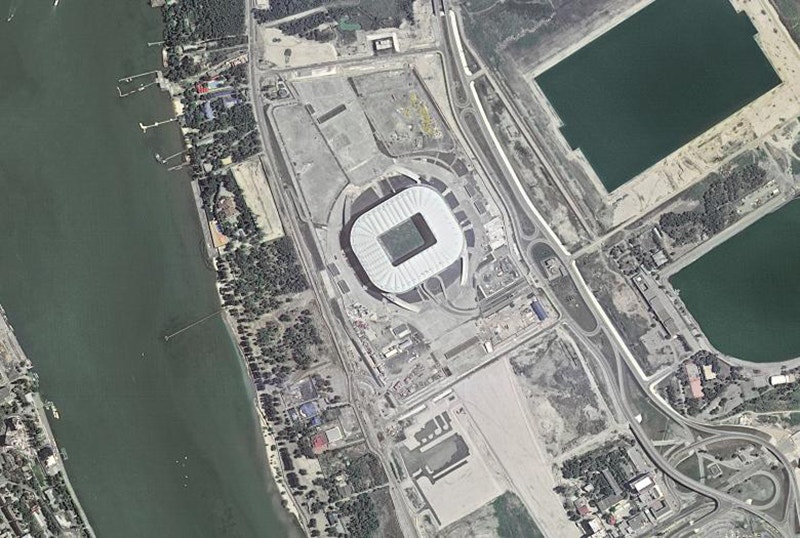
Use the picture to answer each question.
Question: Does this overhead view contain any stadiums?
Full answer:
Yes, the picture does show a stadium.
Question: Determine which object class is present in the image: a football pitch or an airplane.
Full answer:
The one in the frame is a football pitch.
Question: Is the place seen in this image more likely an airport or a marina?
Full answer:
The picture captures a marina.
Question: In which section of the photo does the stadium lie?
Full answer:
The stadium sits in the center section of the image.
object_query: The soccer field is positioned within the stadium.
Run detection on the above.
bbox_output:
[377,212,437,266]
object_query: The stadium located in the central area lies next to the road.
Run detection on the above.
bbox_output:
[348,183,466,295]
